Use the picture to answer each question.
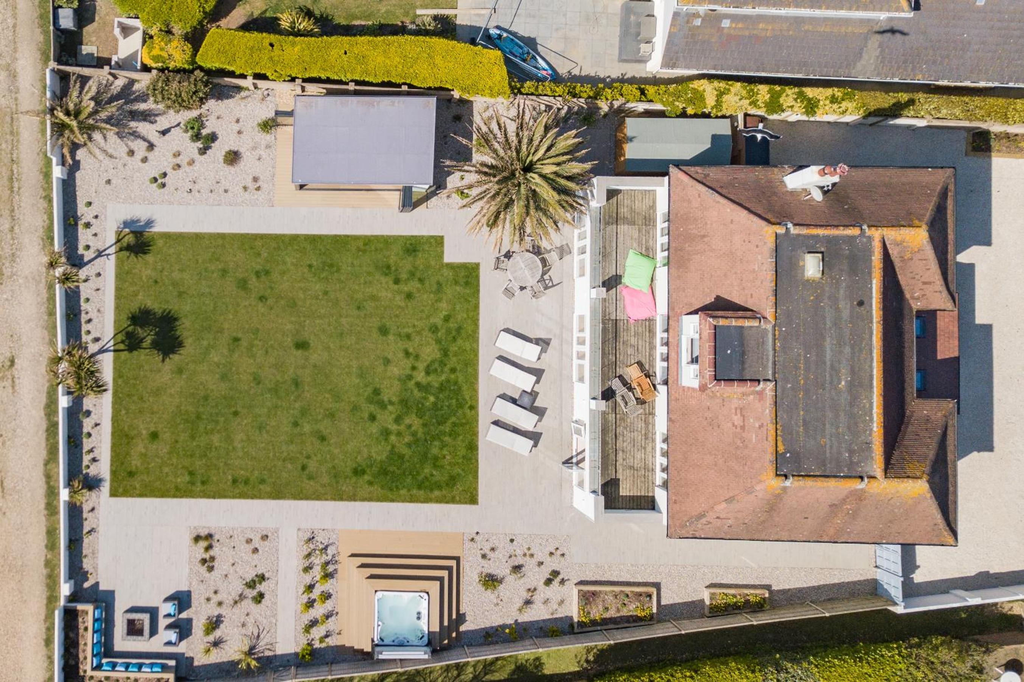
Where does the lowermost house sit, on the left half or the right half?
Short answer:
right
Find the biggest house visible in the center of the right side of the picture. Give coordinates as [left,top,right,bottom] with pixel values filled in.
[555,163,959,548]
